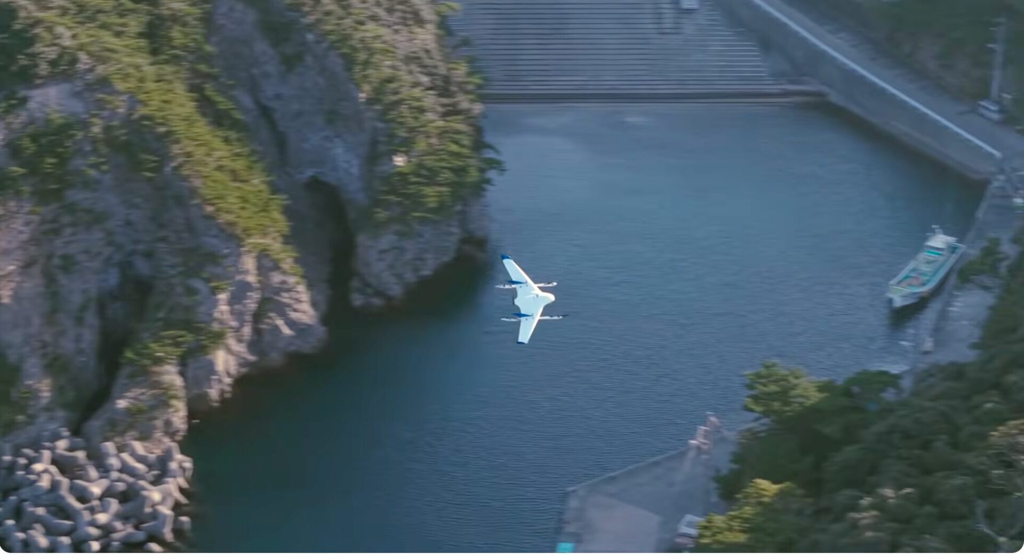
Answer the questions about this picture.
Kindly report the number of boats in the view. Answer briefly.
one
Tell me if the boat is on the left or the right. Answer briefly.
right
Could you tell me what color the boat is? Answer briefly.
blue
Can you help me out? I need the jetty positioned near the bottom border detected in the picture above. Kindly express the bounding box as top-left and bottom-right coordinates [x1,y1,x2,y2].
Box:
[557,413,782,554]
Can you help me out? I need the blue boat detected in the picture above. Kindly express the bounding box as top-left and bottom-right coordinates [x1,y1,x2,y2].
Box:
[887,225,966,313]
